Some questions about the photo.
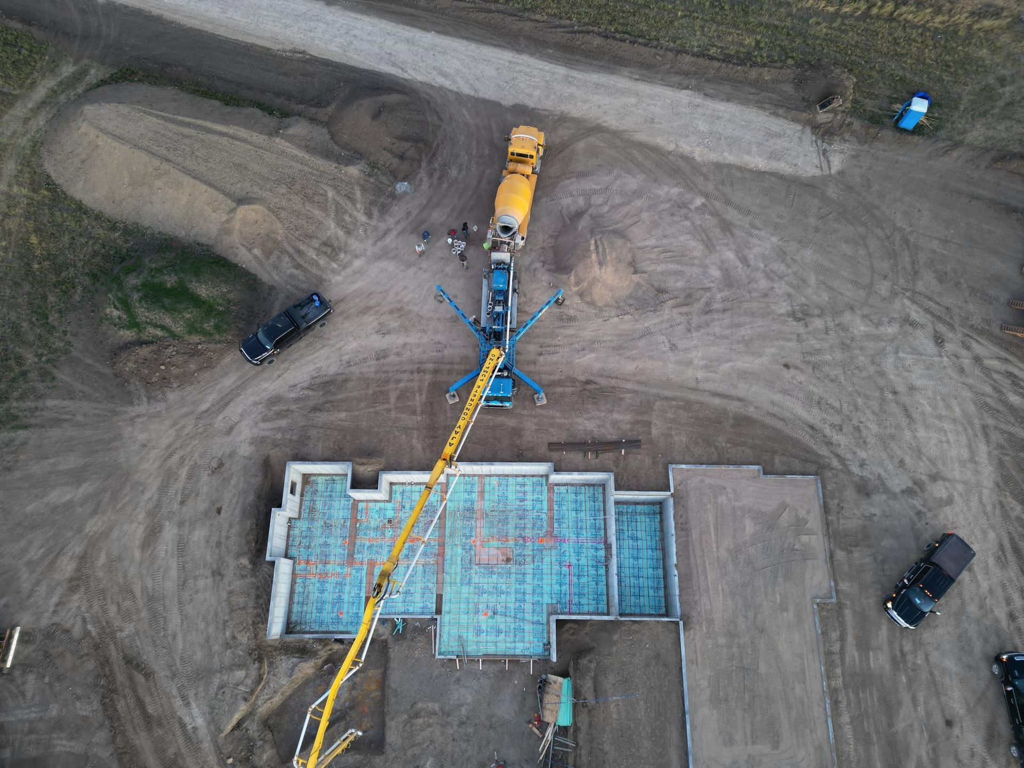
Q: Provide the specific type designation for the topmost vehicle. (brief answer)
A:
truck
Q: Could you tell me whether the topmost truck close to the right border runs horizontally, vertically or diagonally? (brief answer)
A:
diagonally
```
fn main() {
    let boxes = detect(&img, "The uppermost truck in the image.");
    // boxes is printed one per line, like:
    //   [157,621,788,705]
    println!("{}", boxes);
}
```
[488,129,547,255]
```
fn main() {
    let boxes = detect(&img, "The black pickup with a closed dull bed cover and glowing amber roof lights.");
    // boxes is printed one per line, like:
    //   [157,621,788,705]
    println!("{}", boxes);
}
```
[877,531,974,632]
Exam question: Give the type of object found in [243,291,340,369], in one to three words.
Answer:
truck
